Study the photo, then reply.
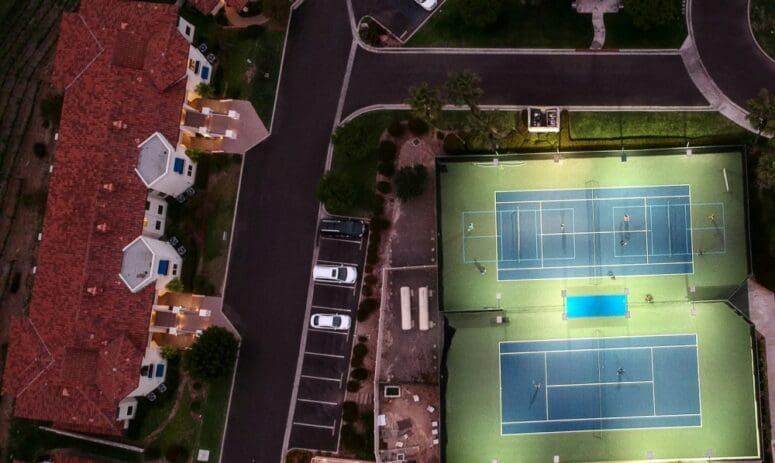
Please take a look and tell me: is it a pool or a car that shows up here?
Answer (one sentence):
This aerial view contains a car.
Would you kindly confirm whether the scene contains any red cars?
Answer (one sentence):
No, no red car is visible in the scene.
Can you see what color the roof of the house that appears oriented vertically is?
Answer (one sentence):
The color of the roof on the house that appears oriented vertically is red.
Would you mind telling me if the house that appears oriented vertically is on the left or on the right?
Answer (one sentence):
The house that appears oriented vertically is on the left side of the image.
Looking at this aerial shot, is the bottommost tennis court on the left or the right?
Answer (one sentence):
The bottommost tennis court appears in the right half of the scene.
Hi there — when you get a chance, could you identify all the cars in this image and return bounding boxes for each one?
[313,263,359,284]
[310,312,352,331]
[320,219,368,241]
[414,0,439,12]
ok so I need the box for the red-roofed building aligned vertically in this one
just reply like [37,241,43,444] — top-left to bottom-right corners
[2,0,212,437]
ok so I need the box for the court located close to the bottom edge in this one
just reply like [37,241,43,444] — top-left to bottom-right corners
[444,303,758,463]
